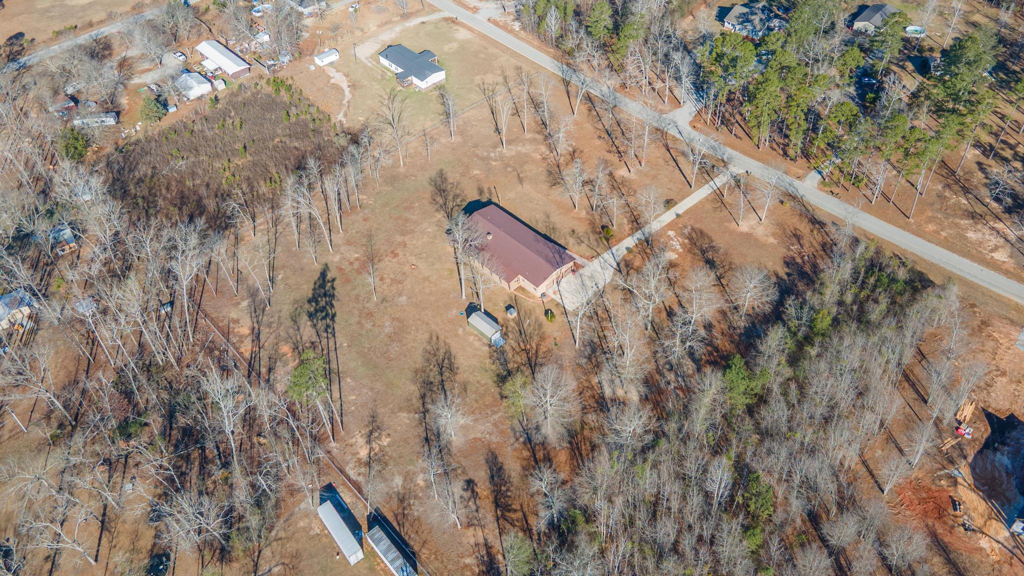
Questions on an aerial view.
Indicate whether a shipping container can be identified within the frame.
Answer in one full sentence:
Yes, there's a shipping container here.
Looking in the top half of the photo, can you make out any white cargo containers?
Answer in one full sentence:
No, looking in the top half of the photo, there is no white cargo container.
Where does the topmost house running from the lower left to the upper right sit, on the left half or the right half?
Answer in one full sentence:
You can find the topmost house running from the lower left to the upper right on the right side of the picture.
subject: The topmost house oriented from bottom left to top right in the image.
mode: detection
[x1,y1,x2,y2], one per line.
[853,0,893,33]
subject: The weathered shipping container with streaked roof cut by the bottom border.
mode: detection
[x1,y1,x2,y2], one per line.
[365,526,413,576]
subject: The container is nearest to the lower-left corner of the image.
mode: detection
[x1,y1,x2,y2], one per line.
[317,502,364,565]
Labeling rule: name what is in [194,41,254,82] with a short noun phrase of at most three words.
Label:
house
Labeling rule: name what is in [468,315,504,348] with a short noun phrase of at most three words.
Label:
shed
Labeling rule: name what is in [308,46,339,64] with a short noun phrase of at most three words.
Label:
shed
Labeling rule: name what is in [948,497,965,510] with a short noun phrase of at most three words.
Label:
vehicle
